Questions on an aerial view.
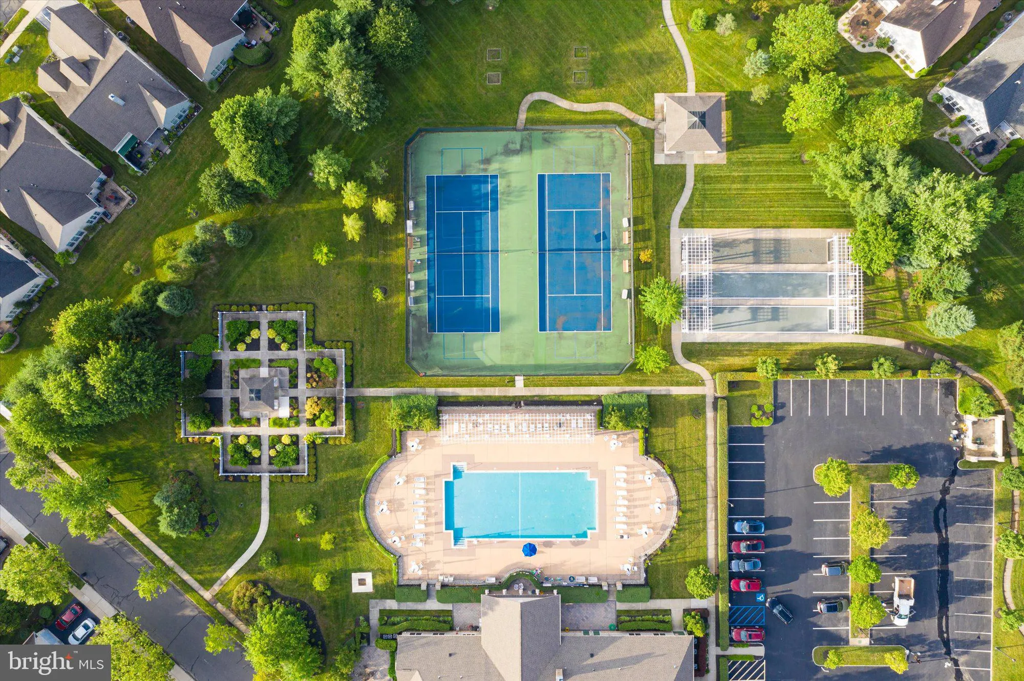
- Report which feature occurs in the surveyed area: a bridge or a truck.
truck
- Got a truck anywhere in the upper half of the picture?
No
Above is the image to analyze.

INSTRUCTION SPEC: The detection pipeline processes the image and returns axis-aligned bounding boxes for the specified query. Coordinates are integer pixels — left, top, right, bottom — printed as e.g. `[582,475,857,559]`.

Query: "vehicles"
[887,571,919,622]
[731,627,765,644]
[68,617,97,646]
[819,562,848,577]
[731,539,763,555]
[730,577,762,593]
[816,599,847,614]
[734,520,764,535]
[765,595,794,627]
[730,558,761,573]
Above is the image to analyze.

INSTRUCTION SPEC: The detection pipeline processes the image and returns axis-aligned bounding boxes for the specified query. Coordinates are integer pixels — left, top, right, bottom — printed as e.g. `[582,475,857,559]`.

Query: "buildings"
[10,622,81,681]
[38,2,194,171]
[0,92,108,252]
[875,0,1001,72]
[937,10,1024,138]
[664,95,722,154]
[0,244,49,325]
[241,377,279,412]
[394,590,694,681]
[116,0,251,83]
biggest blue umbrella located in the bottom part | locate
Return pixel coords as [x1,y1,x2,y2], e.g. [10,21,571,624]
[522,547,537,561]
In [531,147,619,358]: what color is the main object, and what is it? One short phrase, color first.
blue tennis court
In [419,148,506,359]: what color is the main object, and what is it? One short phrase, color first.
blue tennis court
